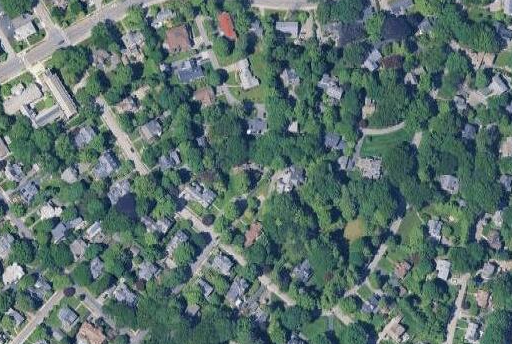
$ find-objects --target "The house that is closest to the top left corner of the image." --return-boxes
[12,18,38,41]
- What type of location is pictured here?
residential area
